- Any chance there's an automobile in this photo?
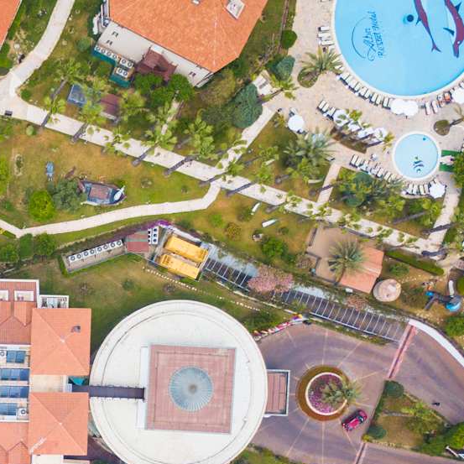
Yes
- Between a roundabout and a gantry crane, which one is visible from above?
roundabout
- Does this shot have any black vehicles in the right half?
No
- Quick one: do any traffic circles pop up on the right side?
Yes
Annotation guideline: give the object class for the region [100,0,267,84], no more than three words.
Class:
house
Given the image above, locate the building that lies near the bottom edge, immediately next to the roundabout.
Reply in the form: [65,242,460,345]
[80,299,296,464]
